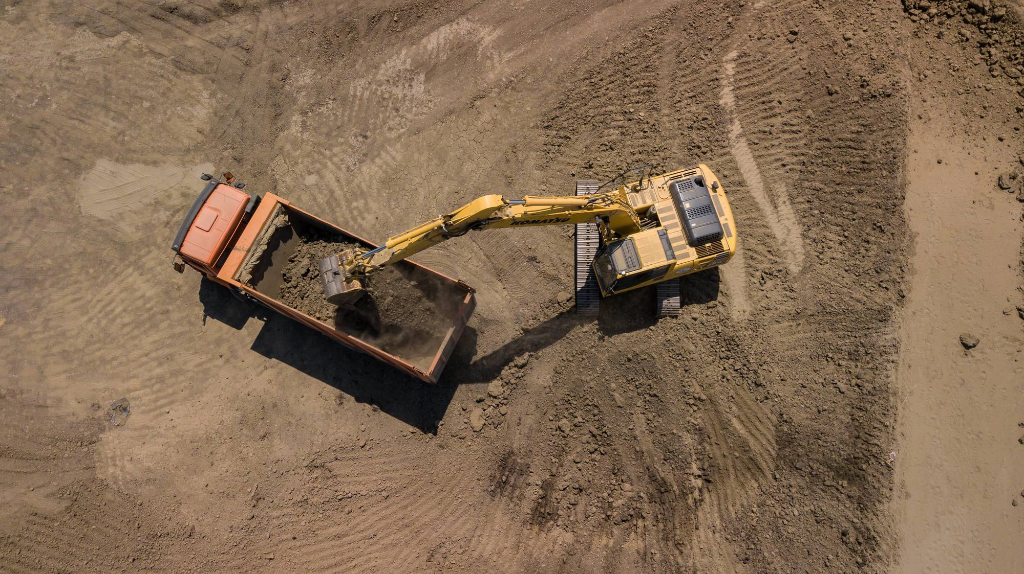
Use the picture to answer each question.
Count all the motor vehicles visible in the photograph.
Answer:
two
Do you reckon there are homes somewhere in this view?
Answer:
No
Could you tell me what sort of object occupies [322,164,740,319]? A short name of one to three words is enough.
work vehicle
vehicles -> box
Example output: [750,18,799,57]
[322,164,740,319]
[169,172,477,384]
